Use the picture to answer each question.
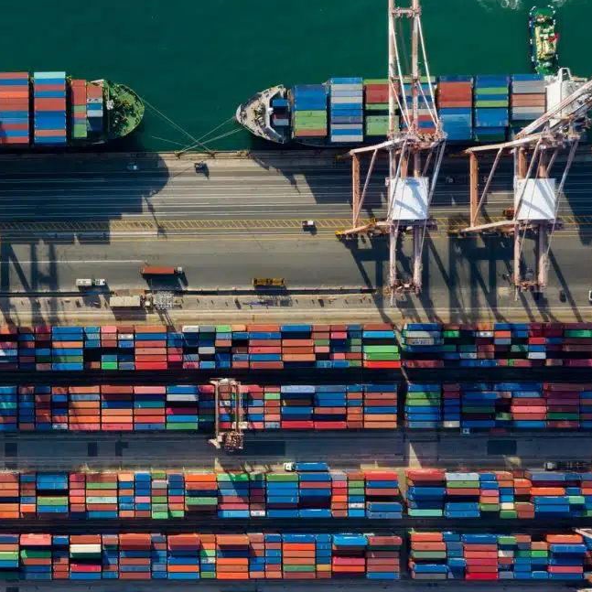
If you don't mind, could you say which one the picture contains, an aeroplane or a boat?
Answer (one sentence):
The image shows a boat.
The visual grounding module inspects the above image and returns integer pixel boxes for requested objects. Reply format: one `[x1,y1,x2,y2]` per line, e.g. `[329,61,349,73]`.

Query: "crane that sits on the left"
[204,374,248,453]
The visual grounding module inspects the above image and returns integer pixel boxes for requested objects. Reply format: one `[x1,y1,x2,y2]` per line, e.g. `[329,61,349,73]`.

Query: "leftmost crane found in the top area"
[326,0,453,301]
